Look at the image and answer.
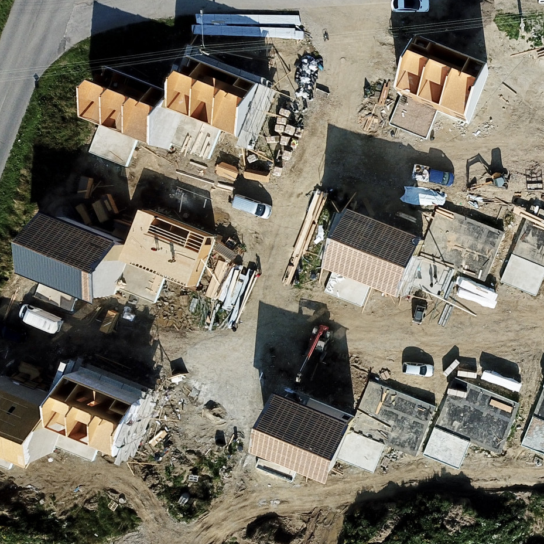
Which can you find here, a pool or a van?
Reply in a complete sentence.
Looking from above, you can make out a van.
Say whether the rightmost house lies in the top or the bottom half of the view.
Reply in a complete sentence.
The top half of the photo is where the rightmost house is.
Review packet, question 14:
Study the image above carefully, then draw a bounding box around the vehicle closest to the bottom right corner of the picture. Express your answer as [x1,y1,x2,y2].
[401,362,435,379]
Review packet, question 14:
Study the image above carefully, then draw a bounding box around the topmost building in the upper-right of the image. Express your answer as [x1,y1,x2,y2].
[393,37,484,121]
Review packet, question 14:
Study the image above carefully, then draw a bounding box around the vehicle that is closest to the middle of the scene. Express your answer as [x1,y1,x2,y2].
[231,192,274,220]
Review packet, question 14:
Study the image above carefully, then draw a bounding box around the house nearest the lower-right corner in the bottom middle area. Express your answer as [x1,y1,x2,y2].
[246,396,348,486]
